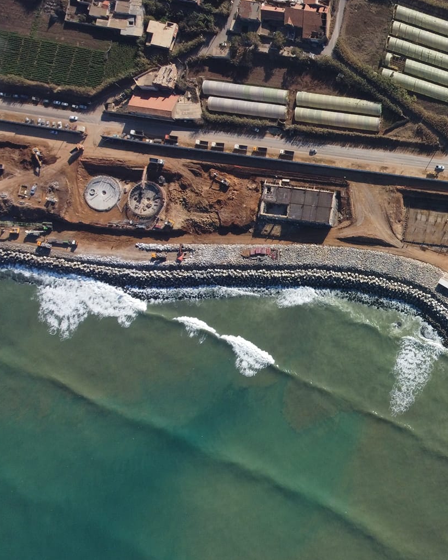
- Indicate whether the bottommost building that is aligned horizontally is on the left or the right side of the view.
right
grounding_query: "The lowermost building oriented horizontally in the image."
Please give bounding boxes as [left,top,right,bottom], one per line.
[260,183,340,225]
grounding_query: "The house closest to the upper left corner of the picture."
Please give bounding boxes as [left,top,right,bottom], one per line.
[78,0,113,18]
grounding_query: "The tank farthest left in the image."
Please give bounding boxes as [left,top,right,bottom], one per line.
[84,175,127,213]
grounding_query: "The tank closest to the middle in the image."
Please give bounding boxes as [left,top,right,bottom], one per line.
[128,172,171,222]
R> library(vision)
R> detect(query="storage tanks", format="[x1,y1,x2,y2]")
[84,175,127,213]
[128,172,171,222]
